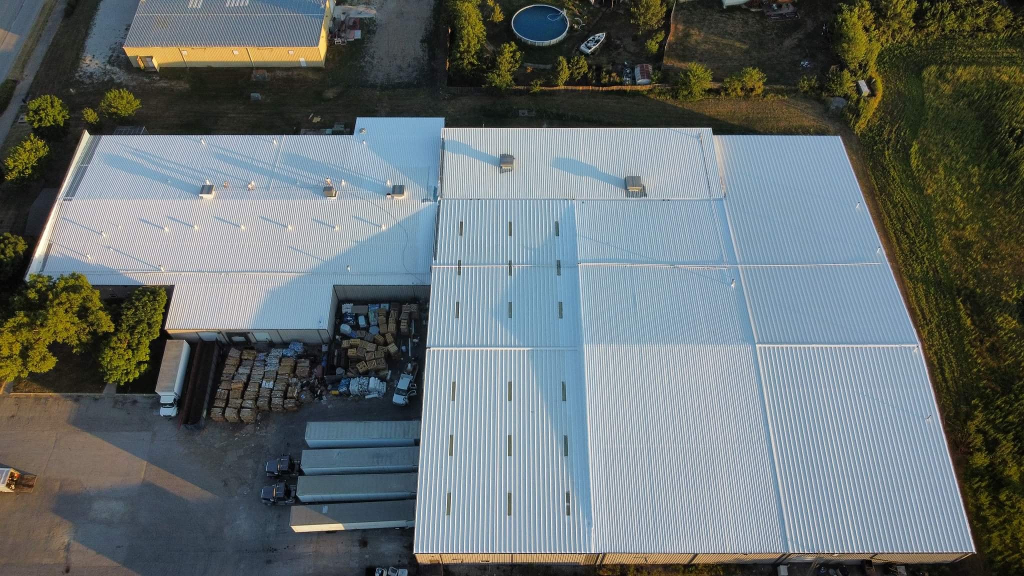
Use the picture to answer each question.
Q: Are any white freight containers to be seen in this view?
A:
No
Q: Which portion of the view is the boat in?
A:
top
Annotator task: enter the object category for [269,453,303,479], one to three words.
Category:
truck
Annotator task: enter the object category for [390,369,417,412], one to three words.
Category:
truck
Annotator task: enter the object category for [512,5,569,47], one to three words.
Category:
swimming pool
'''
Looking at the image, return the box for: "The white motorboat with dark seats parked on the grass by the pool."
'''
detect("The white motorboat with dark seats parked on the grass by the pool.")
[580,31,606,53]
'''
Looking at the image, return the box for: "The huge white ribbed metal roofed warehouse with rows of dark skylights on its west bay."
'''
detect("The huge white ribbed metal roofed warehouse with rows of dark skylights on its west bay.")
[413,127,980,567]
